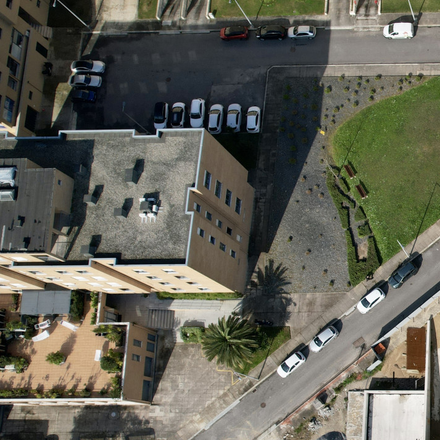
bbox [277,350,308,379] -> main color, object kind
white car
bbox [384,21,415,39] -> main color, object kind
white vehicle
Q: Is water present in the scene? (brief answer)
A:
No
